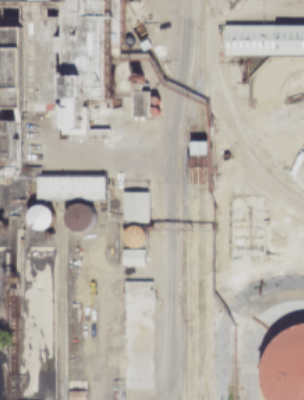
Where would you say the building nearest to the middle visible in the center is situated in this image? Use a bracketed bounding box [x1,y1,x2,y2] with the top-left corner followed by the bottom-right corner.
[123,192,152,223]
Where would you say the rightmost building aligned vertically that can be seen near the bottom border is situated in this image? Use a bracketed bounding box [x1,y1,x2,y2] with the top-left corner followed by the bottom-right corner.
[126,282,157,390]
